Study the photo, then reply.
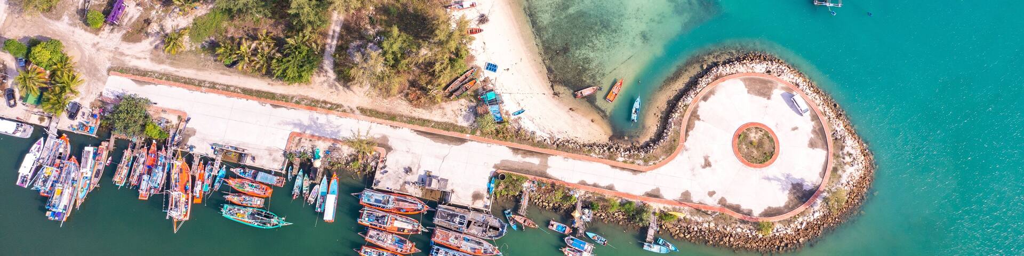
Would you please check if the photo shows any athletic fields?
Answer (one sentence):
No, the frame has no athletic field in it.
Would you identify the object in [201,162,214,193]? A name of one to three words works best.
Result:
boat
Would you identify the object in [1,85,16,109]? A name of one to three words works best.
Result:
vehicle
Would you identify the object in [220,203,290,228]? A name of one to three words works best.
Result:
boat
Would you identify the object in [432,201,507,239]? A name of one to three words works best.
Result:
ship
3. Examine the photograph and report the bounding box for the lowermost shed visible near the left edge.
[14,88,44,106]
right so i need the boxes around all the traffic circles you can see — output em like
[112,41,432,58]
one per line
[732,122,779,168]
